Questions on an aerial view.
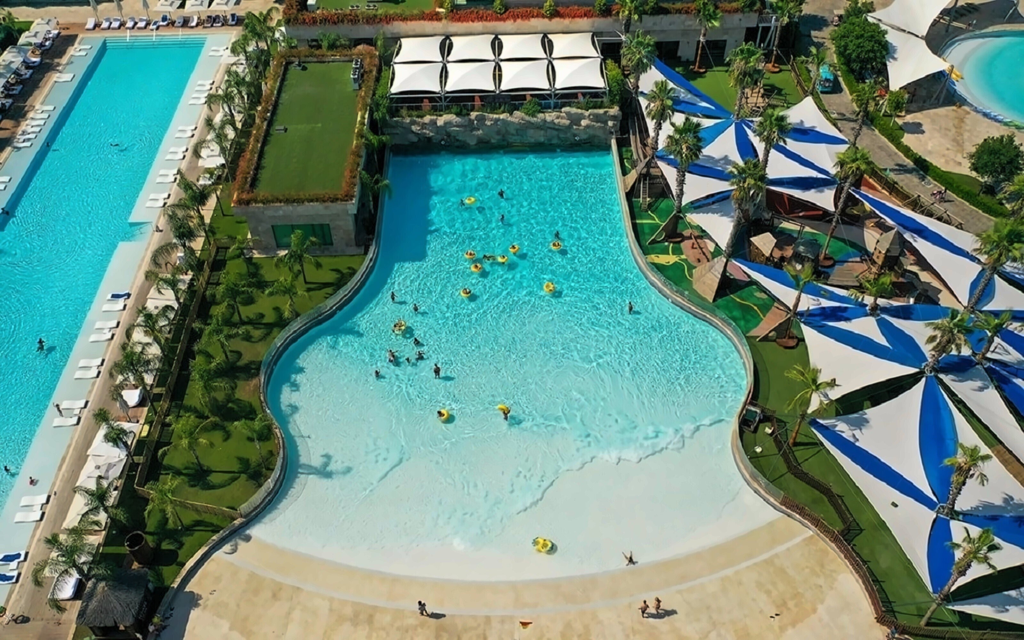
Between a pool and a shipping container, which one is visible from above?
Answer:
pool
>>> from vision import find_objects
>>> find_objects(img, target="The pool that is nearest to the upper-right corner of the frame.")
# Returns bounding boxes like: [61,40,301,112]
[939,24,1024,132]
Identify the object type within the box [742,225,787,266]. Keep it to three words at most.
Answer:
shed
